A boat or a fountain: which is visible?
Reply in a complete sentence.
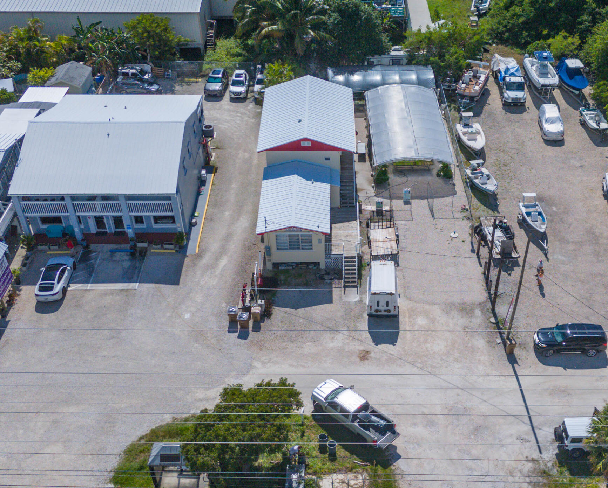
Visible in the photo is a boat.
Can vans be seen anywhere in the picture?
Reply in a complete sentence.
Yes, a van is visible in the scene.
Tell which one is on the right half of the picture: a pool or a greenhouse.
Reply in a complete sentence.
Looking on the right half of the picture, you will find a greenhouse.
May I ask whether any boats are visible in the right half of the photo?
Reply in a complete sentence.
Yes, there is a boat in the right half of the photo.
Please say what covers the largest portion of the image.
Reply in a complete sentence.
The bulk of the photo consists of paved ground.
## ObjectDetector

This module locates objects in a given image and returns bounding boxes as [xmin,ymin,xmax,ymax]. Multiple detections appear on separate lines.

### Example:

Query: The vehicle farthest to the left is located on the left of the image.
[34,255,78,301]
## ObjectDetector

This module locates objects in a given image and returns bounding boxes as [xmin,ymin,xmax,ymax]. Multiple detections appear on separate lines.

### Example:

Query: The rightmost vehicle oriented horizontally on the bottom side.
[531,325,608,363]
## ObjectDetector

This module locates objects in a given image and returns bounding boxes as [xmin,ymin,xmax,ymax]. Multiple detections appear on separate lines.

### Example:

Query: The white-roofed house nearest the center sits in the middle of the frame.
[256,176,331,265]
